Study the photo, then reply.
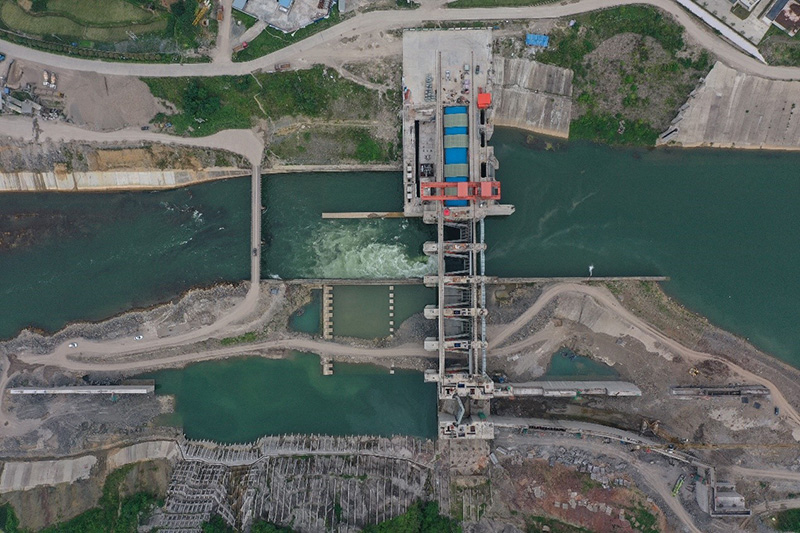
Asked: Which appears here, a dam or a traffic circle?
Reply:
dam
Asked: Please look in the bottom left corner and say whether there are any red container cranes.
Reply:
No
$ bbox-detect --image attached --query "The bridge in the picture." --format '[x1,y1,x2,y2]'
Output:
[251,166,267,285]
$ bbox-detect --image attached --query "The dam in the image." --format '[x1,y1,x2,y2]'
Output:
[422,219,493,388]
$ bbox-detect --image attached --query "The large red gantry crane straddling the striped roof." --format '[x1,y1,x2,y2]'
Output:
[421,177,501,206]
